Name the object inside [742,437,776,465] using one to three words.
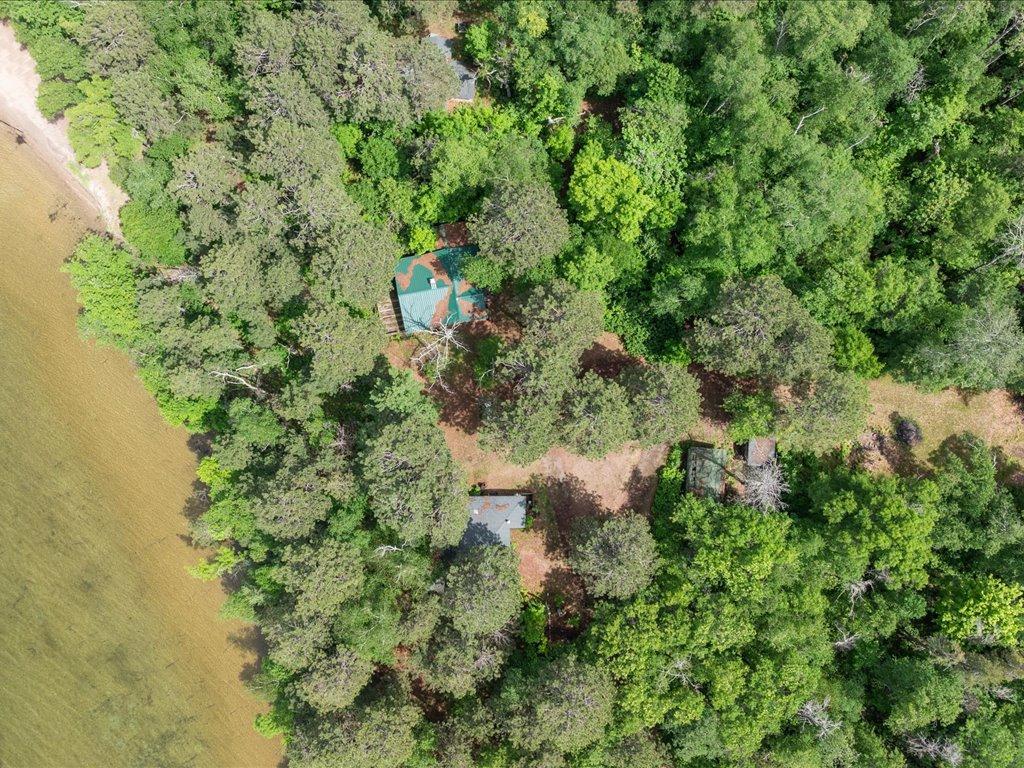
shed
